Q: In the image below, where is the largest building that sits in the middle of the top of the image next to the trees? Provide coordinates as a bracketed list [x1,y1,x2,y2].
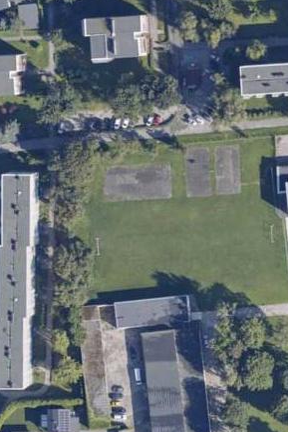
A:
[83,15,153,67]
